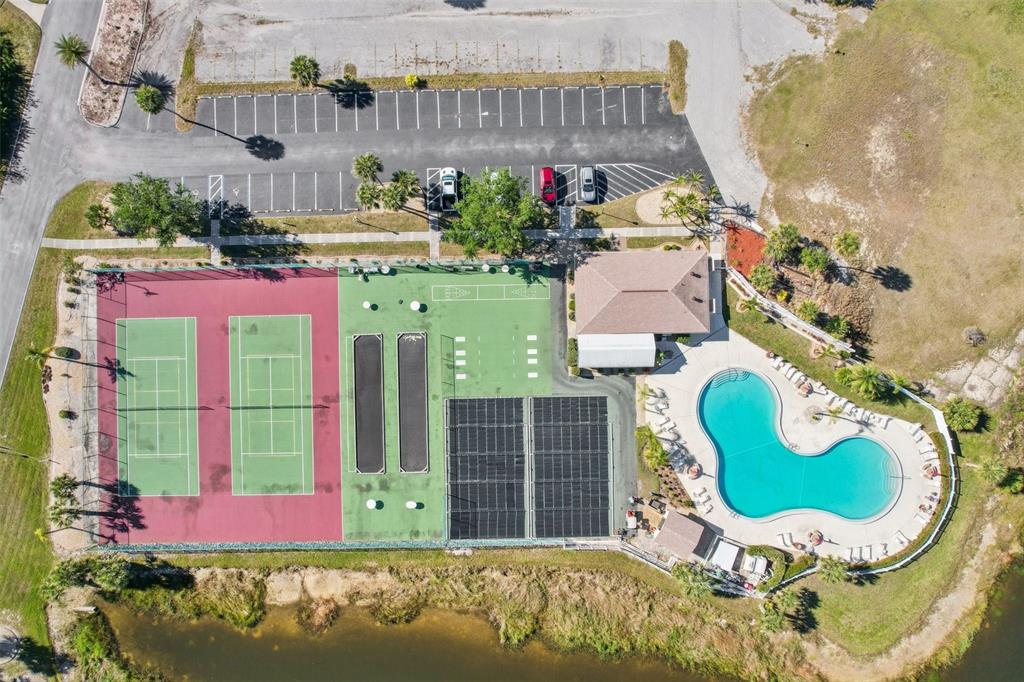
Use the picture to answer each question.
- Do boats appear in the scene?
No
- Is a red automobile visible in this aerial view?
Yes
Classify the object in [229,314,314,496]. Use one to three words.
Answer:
tennis court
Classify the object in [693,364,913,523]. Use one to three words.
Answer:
swimming pool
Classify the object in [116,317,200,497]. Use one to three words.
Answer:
tennis court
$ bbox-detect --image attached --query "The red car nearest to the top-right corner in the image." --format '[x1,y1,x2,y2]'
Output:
[540,166,557,202]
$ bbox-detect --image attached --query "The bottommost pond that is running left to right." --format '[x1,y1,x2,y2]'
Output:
[132,619,676,682]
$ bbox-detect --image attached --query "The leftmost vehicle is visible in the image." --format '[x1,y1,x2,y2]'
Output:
[440,167,458,211]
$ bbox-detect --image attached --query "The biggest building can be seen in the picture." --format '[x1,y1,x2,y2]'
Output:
[574,249,710,335]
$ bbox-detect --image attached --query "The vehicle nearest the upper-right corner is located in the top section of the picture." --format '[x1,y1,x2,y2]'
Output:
[580,165,597,201]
